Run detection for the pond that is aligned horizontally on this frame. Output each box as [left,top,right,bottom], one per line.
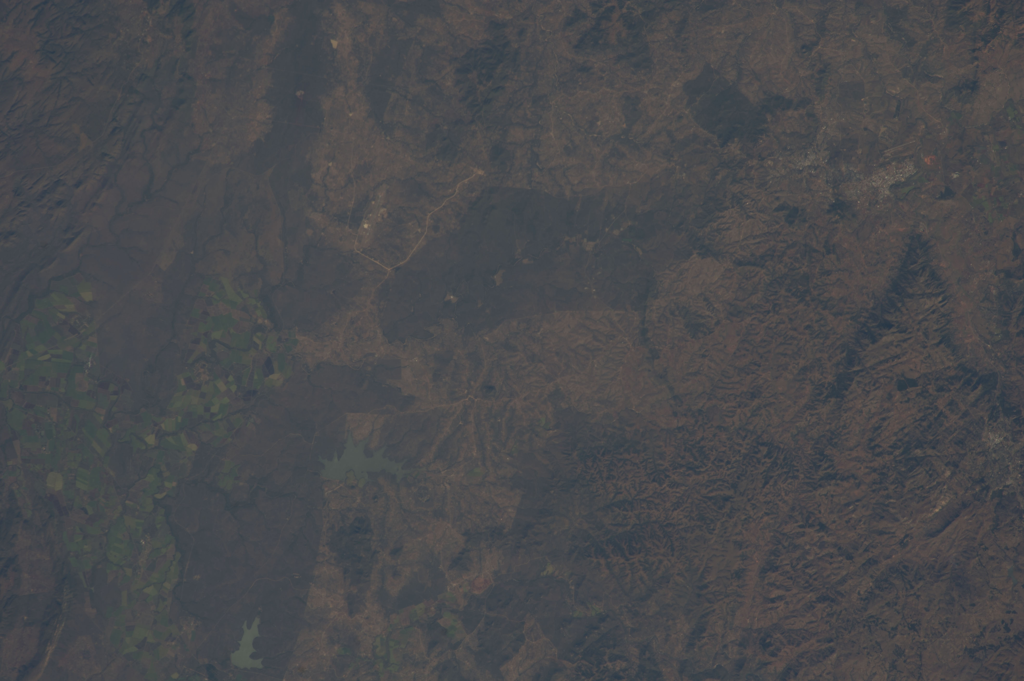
[318,430,426,483]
